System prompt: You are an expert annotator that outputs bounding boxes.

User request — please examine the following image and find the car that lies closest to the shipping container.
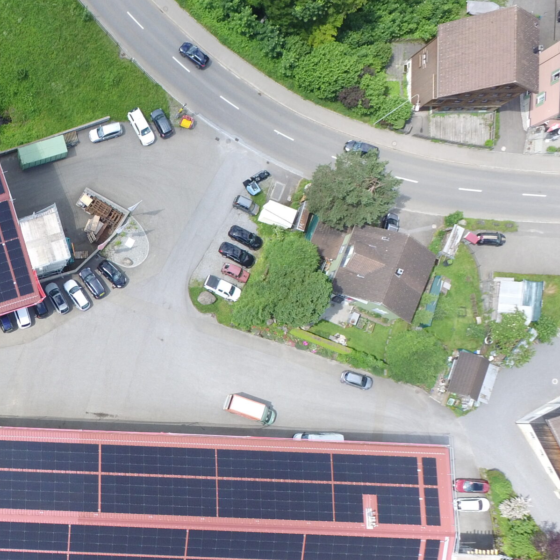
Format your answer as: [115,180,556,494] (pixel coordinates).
[88,122,123,145]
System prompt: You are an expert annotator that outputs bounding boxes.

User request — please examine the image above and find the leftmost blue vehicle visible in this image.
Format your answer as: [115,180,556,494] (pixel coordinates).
[0,311,15,333]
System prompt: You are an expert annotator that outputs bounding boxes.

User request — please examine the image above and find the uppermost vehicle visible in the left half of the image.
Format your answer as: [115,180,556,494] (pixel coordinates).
[175,42,213,72]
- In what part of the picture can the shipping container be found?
top left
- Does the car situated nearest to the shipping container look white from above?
Yes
